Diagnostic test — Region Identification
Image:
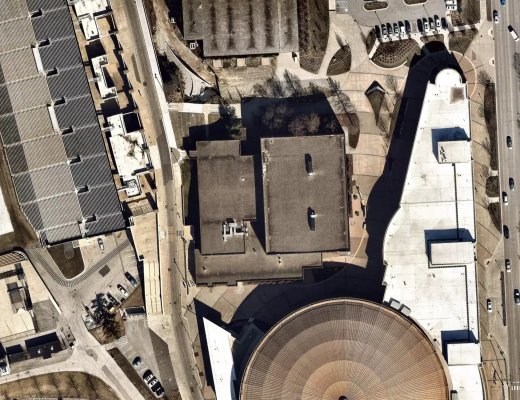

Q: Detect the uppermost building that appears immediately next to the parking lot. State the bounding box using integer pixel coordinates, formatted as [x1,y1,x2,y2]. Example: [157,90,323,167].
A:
[183,0,299,56]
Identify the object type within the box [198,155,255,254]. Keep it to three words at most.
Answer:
building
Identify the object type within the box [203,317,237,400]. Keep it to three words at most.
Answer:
building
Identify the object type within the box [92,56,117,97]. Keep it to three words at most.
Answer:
house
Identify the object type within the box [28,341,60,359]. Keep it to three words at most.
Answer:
shed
